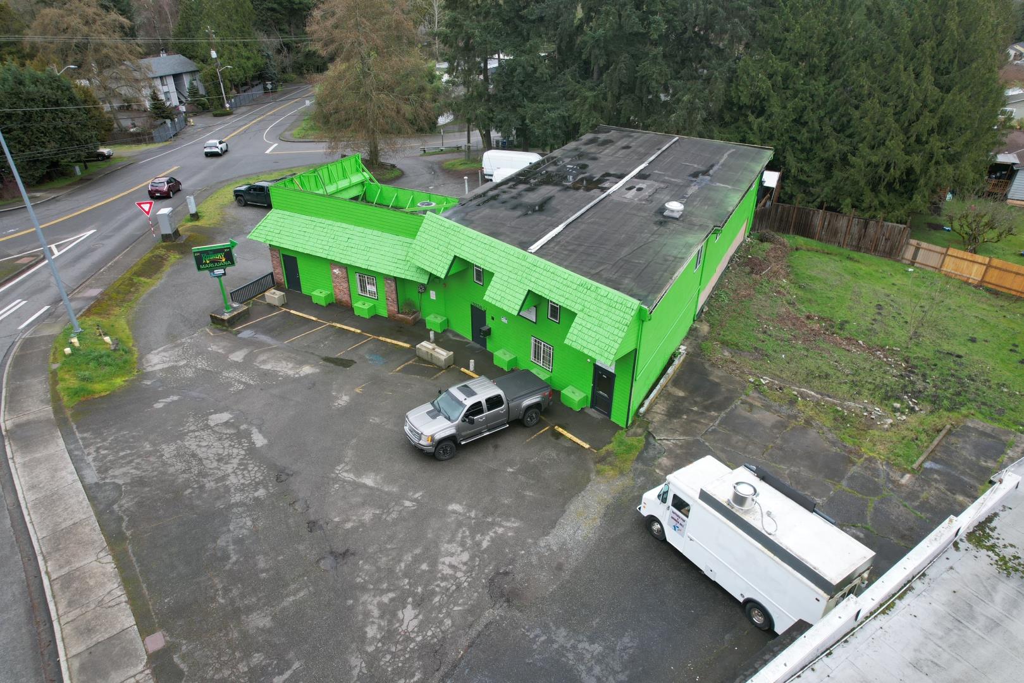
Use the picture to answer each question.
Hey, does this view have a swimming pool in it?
No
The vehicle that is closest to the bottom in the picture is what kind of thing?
truck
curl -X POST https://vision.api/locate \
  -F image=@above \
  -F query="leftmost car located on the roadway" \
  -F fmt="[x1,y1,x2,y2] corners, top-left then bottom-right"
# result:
[145,175,180,200]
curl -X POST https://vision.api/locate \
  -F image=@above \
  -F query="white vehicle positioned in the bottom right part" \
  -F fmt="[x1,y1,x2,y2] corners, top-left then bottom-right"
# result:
[637,453,885,636]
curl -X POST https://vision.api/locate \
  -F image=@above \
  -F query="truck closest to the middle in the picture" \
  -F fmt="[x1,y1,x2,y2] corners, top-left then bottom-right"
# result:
[398,367,558,459]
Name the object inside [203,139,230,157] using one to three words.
car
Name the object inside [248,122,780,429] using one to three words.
building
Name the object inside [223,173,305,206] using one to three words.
truck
